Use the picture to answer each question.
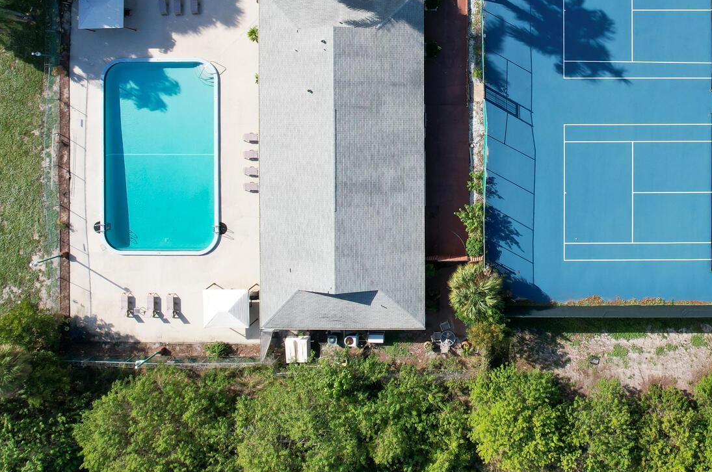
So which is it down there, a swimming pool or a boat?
swimming pool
